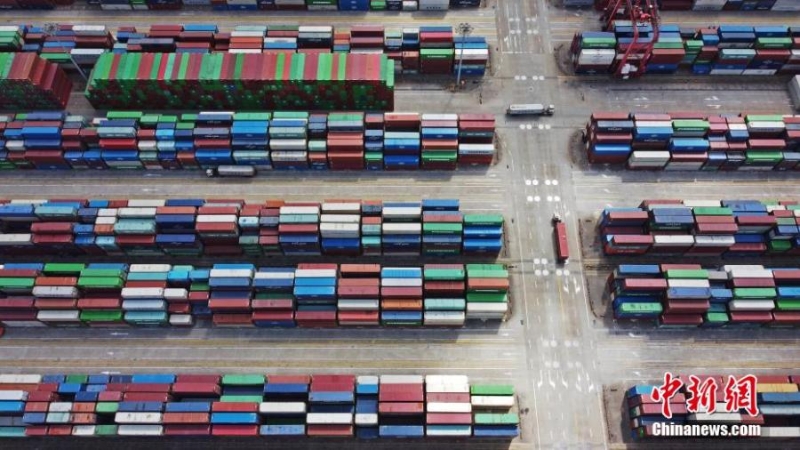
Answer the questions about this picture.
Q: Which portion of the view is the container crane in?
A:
top right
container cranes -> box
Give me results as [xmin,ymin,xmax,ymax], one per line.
[604,0,664,82]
